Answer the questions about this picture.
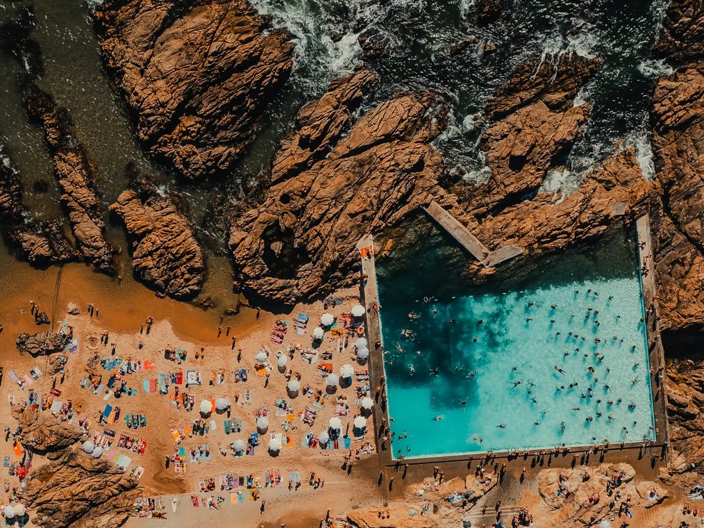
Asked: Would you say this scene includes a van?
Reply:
No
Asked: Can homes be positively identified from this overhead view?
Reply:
No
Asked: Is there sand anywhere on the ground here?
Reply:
Yes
